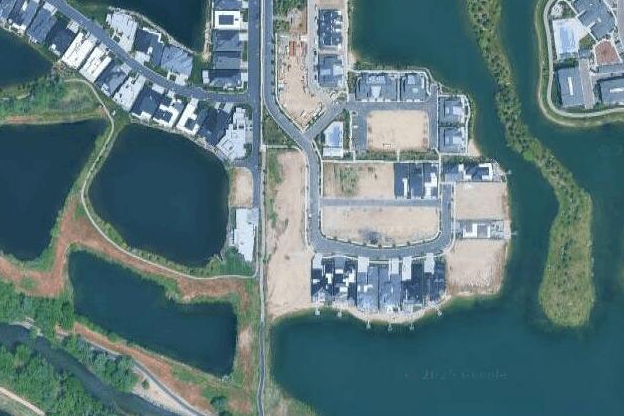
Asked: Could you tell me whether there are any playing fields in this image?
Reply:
No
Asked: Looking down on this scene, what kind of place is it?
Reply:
residential area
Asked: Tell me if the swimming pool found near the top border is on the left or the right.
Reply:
right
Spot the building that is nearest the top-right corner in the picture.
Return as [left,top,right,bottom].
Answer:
[573,0,616,40]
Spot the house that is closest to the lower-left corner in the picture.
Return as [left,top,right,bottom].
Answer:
[233,209,254,261]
